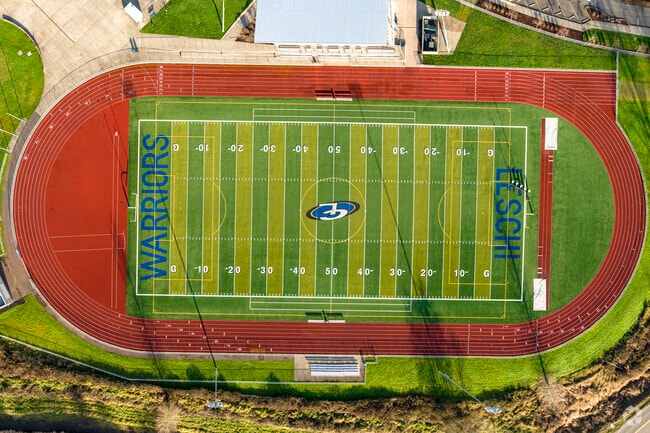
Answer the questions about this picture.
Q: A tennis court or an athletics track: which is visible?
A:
athletics track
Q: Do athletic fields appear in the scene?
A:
Yes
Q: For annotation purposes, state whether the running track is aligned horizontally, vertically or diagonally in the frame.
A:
horizontally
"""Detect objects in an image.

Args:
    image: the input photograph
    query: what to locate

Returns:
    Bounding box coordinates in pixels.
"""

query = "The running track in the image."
[13,63,647,357]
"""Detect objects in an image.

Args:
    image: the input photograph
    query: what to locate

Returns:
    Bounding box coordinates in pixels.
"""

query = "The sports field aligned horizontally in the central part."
[127,96,614,325]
